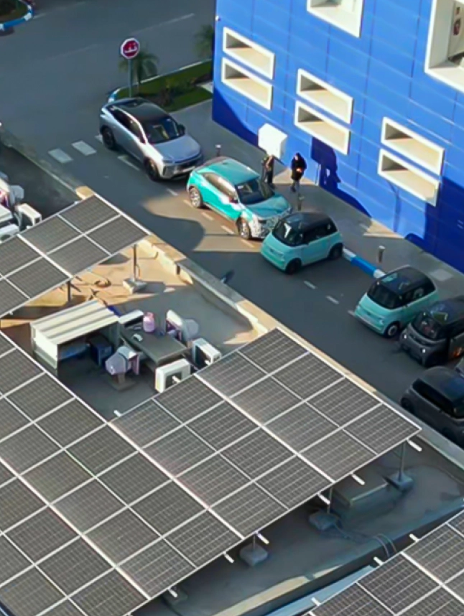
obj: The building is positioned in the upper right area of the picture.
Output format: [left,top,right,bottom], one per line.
[210,0,464,288]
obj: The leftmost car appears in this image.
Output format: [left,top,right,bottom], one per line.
[96,98,208,181]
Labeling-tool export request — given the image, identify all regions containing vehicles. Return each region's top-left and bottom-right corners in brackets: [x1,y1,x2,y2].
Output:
[401,356,464,443]
[183,157,297,241]
[96,98,208,181]
[260,205,346,274]
[404,284,464,360]
[351,262,439,336]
